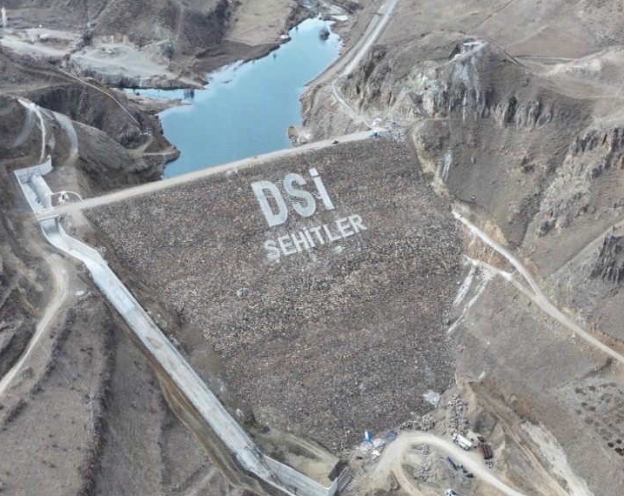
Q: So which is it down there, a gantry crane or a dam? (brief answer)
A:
dam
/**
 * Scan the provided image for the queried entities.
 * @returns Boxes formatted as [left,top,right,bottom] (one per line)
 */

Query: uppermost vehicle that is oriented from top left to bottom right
[450,432,473,449]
